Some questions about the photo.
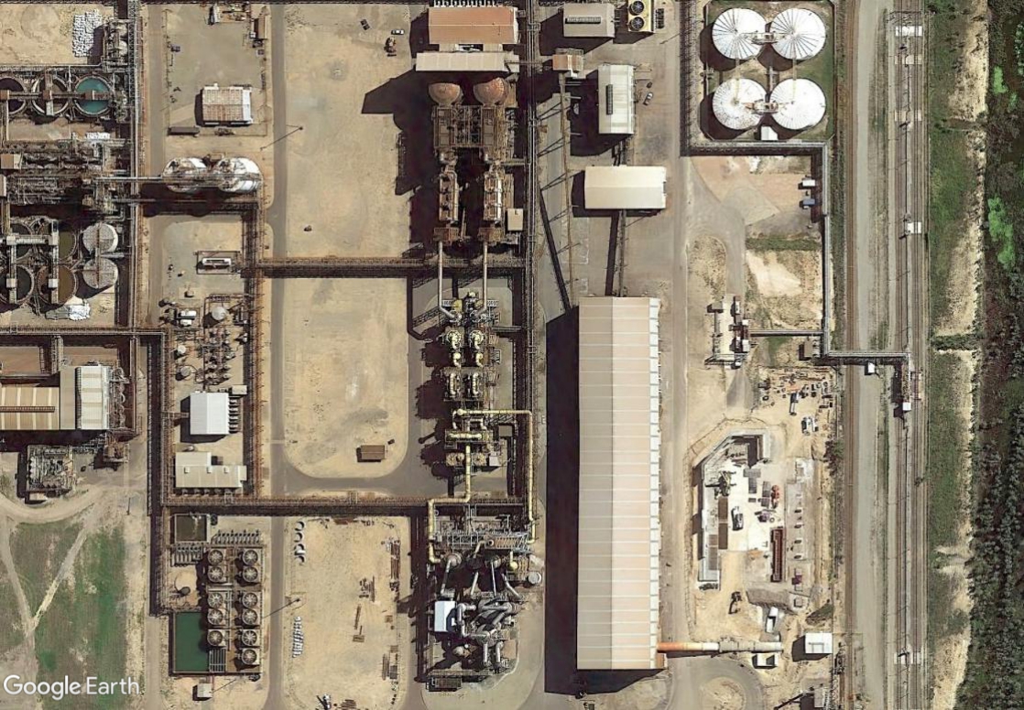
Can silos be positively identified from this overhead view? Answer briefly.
Yes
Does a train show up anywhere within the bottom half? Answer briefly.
No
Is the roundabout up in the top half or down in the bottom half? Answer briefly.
bottom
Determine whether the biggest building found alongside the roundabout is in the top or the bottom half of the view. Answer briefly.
bottom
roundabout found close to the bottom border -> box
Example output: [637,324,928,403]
[669,655,766,710]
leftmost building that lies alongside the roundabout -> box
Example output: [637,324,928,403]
[579,298,668,670]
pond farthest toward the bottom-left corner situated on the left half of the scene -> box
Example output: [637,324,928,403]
[172,612,212,673]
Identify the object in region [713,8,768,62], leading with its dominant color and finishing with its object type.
white storage tank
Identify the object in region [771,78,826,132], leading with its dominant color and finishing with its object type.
white storage tank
